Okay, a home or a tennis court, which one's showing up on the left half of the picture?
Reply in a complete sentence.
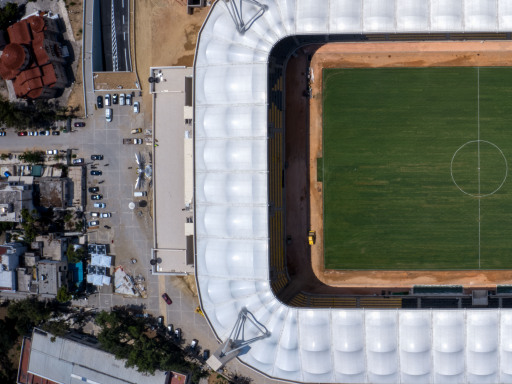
Visible on the left half of the picture is a home.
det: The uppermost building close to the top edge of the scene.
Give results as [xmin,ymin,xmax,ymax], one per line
[0,12,82,113]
